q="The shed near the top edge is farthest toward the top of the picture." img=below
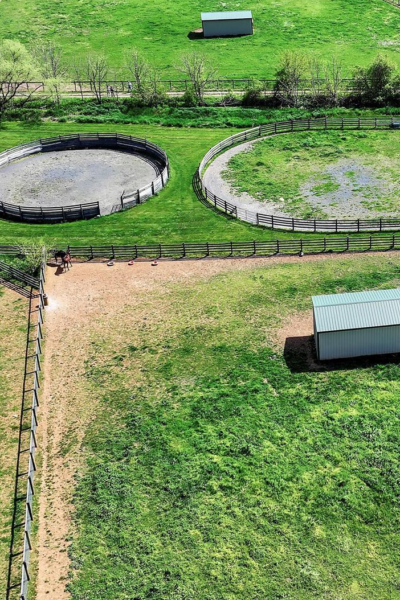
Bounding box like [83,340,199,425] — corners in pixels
[201,11,253,36]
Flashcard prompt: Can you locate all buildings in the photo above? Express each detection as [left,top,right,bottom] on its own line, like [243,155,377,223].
[311,294,400,361]
[201,11,253,36]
